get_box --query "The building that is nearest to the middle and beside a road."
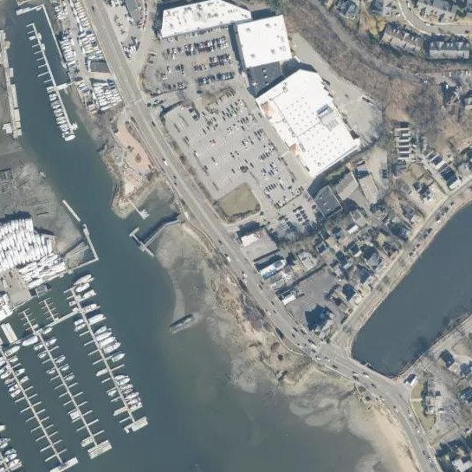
[242,229,278,260]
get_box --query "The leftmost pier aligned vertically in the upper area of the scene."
[0,31,22,136]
